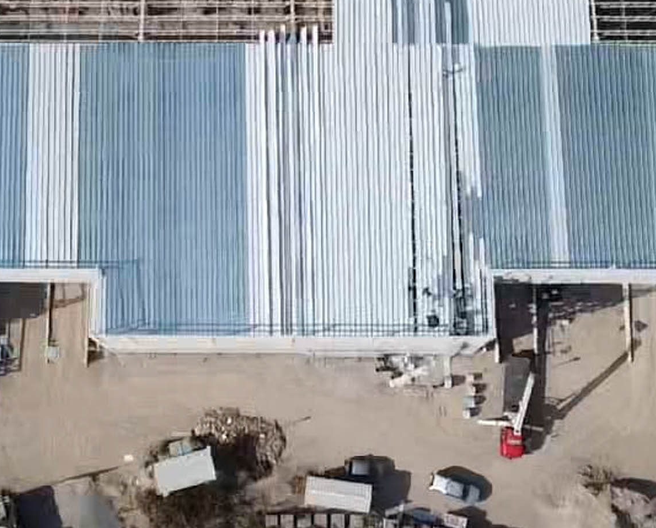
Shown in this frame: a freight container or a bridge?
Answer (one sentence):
There is a freight container in the scene.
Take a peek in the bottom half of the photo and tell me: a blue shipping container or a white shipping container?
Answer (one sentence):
It is a white shipping container that can be seen in the bottom half of the photo.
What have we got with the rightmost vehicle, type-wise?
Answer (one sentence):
From above, the rightmost vehicle can be identified as a truck.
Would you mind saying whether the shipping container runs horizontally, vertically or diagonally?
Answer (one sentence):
The shipping container is laid out horizontally.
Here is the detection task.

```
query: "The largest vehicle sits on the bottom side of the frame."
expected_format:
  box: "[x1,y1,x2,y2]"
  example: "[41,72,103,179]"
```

[473,352,541,459]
